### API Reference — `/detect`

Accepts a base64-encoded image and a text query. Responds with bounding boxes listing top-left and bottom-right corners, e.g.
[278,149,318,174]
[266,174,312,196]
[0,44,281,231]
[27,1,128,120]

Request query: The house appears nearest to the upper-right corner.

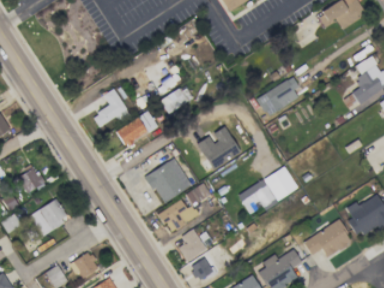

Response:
[320,0,364,30]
